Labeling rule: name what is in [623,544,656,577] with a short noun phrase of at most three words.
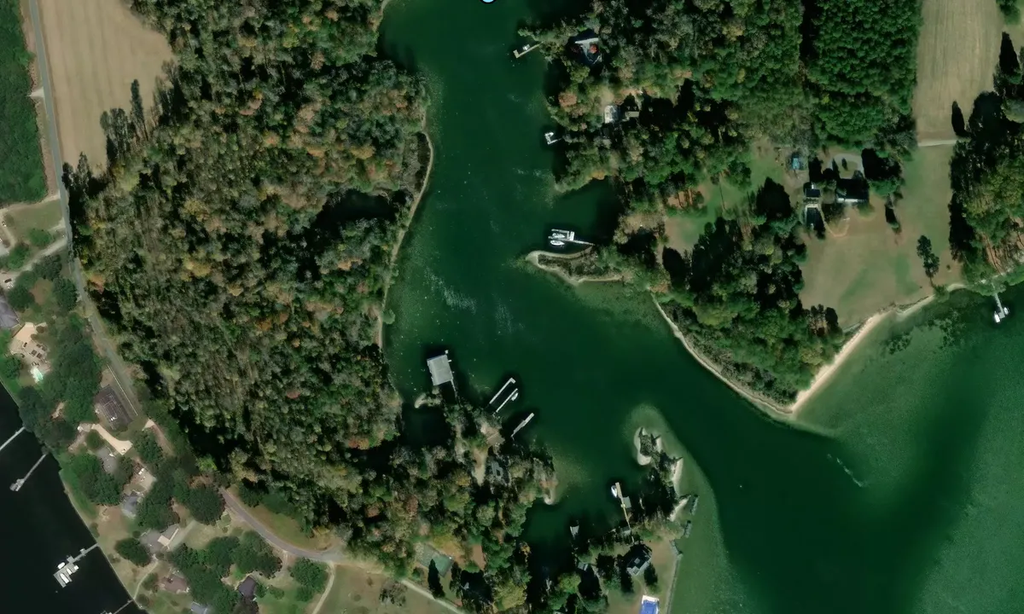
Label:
house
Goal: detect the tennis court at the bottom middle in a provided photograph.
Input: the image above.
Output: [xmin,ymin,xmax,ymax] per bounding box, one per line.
[414,542,457,579]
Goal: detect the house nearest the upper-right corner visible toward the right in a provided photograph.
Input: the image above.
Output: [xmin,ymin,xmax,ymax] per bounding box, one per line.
[837,170,868,201]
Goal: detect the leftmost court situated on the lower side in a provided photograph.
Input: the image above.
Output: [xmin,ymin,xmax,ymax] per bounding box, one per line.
[92,387,134,436]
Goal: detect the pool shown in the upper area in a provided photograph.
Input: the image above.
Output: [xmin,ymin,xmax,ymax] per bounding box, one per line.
[805,205,824,226]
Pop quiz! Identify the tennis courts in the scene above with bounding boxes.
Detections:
[92,387,134,436]
[414,542,457,579]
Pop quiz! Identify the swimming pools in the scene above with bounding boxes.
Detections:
[805,205,824,226]
[639,596,659,614]
[30,367,43,382]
